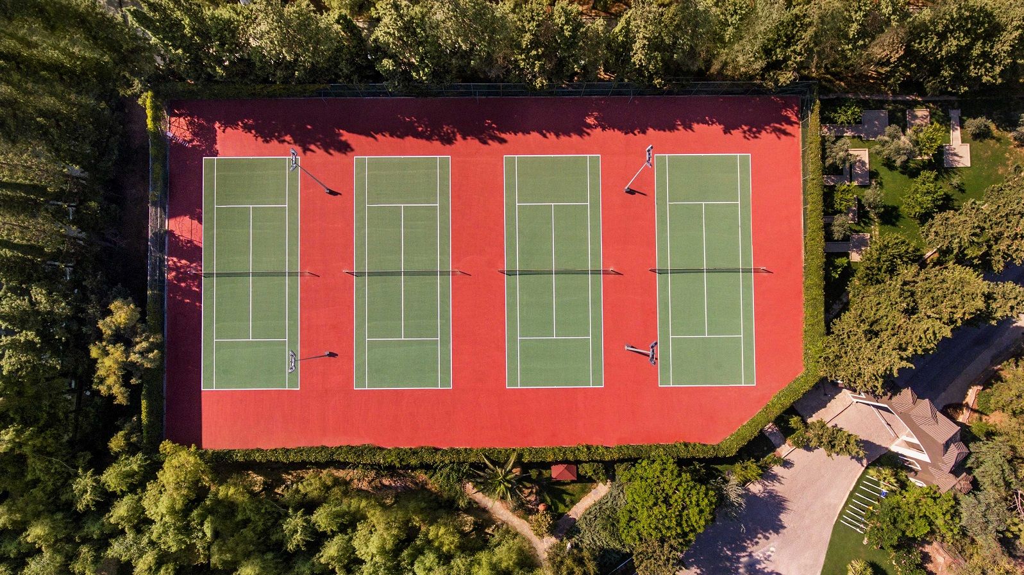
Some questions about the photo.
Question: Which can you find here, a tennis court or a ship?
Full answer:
Of the two, only a tennis court appears.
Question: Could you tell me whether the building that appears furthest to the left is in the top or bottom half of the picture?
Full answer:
The building that appears furthest to the left sits in the bottom half of the picture.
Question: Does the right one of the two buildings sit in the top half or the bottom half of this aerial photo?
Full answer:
The right one of the two buildings is in the bottom half of the image.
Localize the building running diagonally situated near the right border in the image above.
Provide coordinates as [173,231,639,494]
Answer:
[844,374,977,498]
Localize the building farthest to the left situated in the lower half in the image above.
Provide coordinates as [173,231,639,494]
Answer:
[552,462,577,483]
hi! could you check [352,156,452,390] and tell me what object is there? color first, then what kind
green tennis court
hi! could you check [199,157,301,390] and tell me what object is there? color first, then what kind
green tennis court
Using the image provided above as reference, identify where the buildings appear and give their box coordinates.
[552,462,577,483]
[844,374,977,498]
